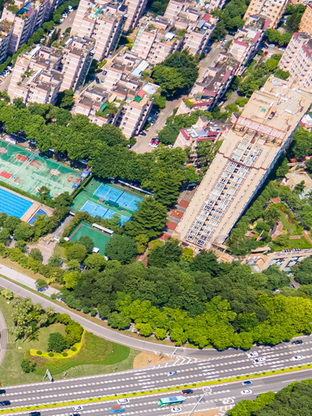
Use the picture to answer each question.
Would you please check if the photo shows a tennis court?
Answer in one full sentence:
Yes, there is a tennis court in the image.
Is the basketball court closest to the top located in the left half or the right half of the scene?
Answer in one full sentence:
The basketball court closest to the top is on the left side of the image.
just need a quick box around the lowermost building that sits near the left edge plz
[10,70,69,126]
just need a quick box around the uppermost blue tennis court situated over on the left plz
[72,174,148,225]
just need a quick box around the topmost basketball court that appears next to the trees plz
[0,139,91,195]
